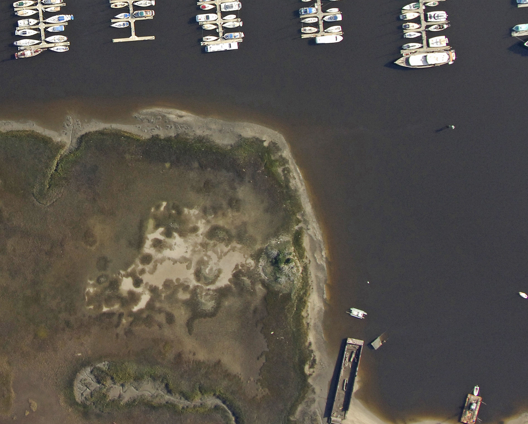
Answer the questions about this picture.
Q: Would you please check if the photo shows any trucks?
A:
No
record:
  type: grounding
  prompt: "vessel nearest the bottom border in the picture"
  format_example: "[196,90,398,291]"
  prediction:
[460,394,484,424]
